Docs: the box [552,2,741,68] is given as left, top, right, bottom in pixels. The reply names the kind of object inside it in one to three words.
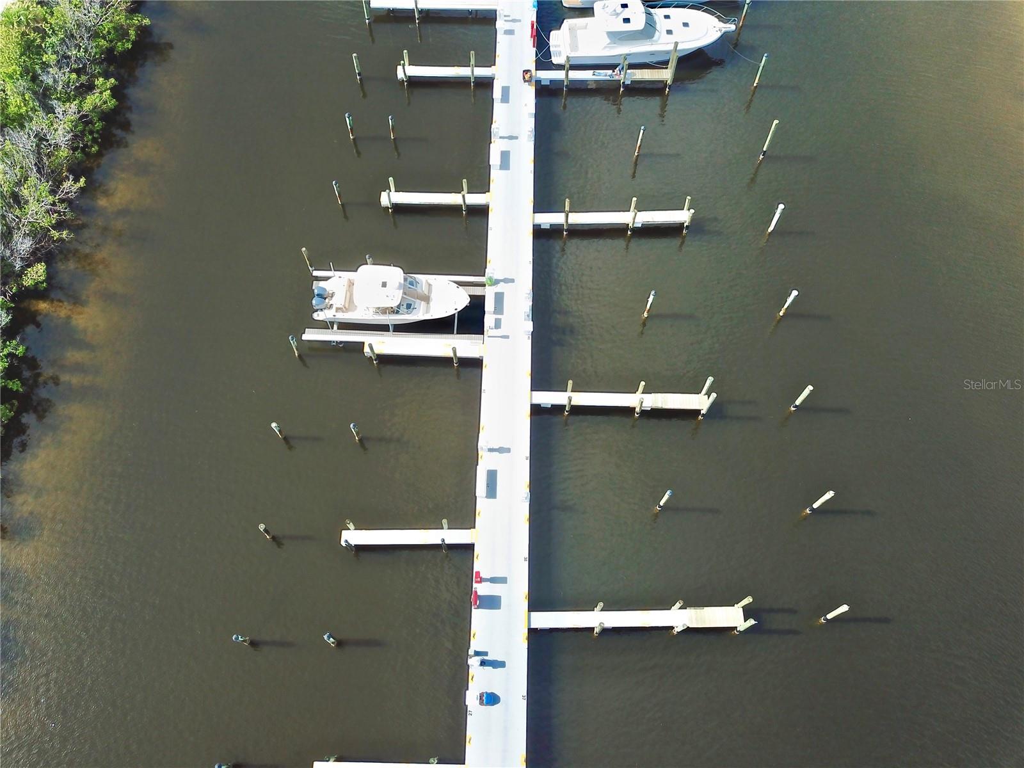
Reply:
boat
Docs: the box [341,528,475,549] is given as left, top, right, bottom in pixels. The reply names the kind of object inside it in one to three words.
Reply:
pier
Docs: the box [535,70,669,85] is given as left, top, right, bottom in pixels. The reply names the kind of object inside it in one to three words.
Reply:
pier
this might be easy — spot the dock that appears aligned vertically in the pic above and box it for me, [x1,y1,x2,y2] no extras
[465,0,536,768]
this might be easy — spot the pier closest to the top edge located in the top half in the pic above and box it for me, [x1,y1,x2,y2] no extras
[371,0,498,21]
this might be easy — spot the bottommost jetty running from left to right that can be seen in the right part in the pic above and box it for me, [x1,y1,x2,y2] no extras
[528,608,744,634]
